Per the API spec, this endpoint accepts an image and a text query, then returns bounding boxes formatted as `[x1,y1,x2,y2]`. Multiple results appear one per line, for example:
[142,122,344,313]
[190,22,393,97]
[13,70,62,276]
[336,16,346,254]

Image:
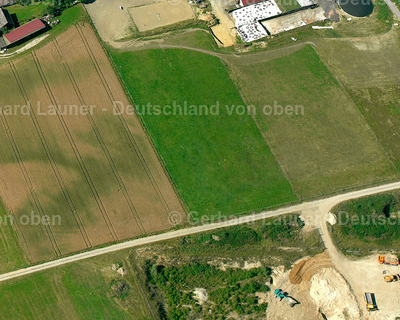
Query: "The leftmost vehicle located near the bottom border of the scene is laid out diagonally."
[275,288,298,308]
